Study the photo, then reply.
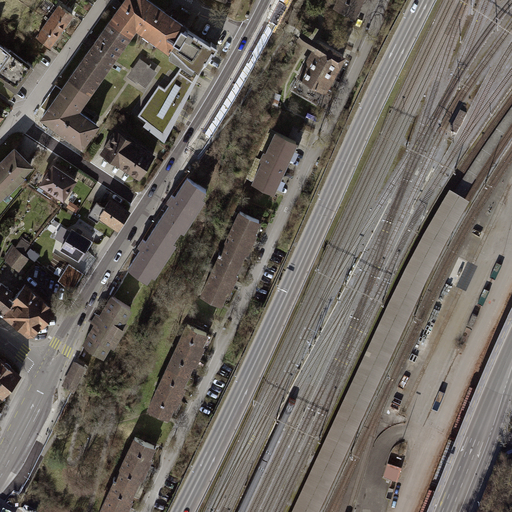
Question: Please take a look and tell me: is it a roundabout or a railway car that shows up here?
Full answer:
It is a railway car that can be seen here.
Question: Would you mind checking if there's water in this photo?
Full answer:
No, no water is visible.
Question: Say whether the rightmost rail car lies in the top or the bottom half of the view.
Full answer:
Seen from above, the rightmost rail car lies in the bottom half of the view.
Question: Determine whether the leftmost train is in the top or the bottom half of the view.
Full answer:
Seen from above, the leftmost train lies in the bottom half of the view.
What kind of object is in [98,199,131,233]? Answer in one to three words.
house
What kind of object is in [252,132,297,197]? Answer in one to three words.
building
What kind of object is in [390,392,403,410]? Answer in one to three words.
vehicle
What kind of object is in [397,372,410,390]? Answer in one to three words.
vehicle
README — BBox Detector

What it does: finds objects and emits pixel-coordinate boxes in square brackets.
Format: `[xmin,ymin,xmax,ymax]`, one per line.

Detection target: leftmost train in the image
[238,384,298,512]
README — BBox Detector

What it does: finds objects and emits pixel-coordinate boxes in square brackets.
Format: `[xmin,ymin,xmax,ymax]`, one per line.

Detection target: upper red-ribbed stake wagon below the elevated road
[451,386,474,434]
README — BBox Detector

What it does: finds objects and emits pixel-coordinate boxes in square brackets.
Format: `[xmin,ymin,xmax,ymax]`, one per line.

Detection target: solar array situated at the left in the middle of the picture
[68,232,91,252]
